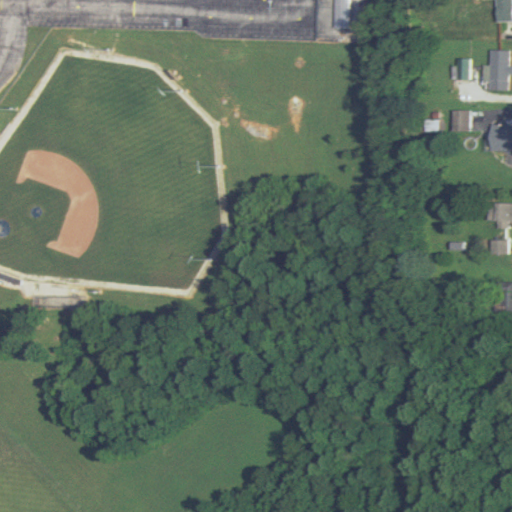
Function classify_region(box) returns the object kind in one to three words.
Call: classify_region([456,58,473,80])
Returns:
barn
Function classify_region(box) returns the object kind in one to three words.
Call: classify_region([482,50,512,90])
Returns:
house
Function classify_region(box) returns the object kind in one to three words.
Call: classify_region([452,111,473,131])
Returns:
building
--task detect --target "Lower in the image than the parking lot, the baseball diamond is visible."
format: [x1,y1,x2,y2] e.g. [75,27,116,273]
[0,48,229,296]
